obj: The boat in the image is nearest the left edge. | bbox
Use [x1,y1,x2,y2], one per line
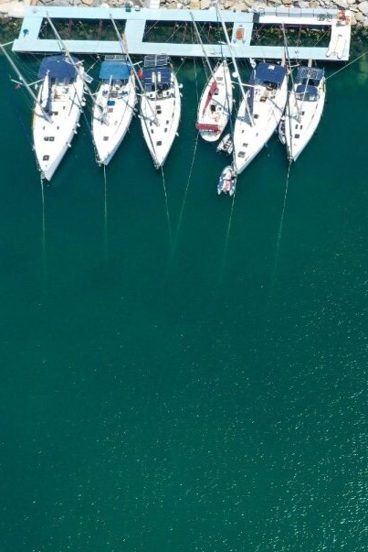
[0,13,91,179]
